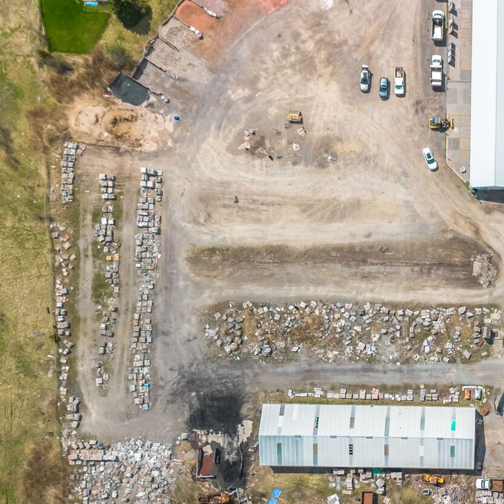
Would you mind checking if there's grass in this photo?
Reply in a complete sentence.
Yes, the picture does contain grass.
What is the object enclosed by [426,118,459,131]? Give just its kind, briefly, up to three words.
vehicle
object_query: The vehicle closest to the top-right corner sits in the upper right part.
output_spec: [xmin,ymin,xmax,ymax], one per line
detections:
[432,10,445,45]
